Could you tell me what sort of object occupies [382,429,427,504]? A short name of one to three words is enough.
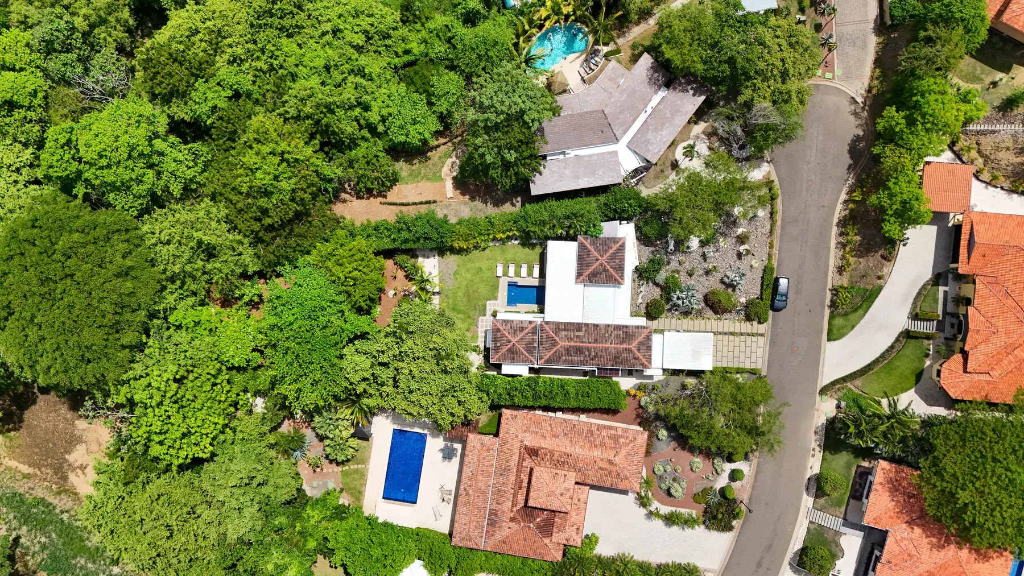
swimming pool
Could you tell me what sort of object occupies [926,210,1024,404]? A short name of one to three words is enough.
house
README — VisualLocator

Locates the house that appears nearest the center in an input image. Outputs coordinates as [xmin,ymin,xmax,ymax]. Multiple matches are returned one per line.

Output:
[486,220,663,376]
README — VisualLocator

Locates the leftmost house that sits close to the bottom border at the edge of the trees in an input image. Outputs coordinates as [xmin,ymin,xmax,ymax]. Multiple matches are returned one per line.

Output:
[446,409,648,562]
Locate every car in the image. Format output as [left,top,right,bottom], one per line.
[773,277,791,311]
